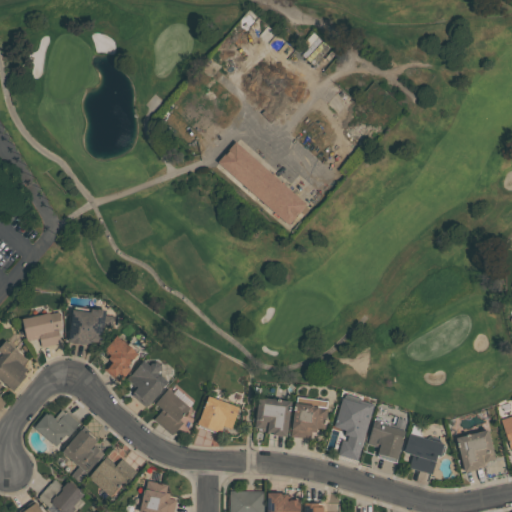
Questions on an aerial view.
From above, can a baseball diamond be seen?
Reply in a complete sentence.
No, the frame has no baseball diamond in it.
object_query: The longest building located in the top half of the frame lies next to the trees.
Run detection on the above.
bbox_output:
[218,140,308,224]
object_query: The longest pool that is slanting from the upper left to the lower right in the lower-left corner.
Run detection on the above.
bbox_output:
[30,432,47,452]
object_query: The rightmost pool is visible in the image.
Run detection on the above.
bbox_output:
[460,416,484,429]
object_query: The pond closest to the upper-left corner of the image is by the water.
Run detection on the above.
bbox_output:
[84,54,136,158]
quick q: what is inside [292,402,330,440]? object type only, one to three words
house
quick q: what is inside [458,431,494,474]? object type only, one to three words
house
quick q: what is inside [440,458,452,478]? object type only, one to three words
swimming pool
